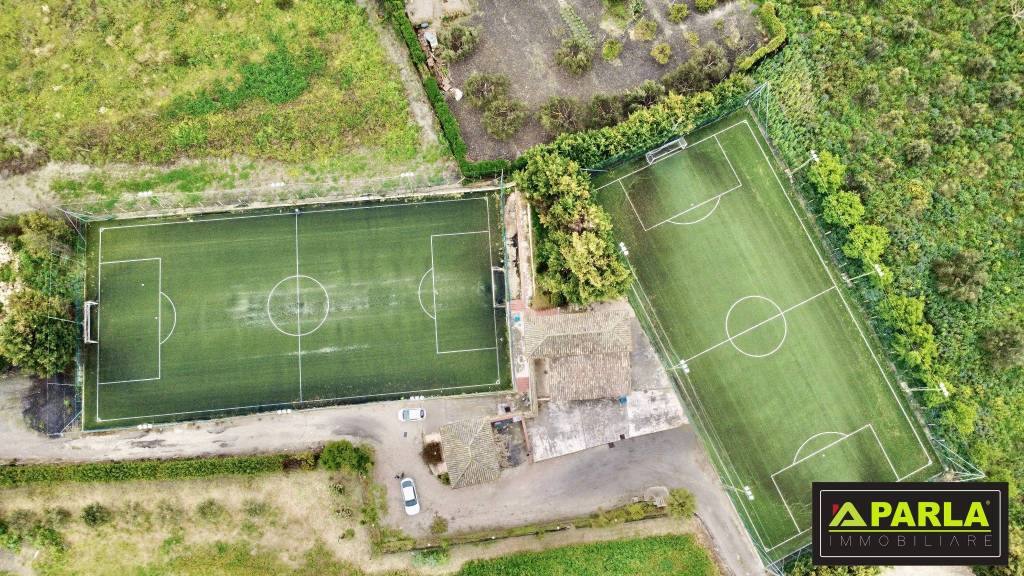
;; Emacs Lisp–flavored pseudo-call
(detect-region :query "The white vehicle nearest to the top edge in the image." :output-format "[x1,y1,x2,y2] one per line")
[398,406,427,423]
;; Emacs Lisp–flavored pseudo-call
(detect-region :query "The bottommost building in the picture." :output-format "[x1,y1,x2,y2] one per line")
[439,415,501,490]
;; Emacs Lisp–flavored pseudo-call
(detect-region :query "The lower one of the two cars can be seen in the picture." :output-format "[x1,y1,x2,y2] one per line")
[399,477,420,517]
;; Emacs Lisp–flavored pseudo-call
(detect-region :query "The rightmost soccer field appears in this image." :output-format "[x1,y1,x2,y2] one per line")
[578,104,945,570]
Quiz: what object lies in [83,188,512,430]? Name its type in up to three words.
soccer field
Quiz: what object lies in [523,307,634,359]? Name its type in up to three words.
house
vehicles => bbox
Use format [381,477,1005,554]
[399,477,420,517]
[398,406,427,423]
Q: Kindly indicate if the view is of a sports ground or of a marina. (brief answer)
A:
sports ground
